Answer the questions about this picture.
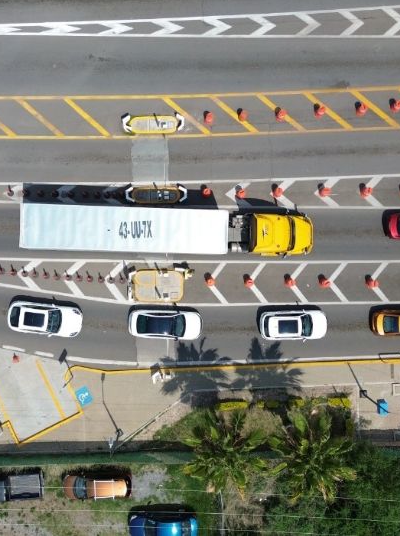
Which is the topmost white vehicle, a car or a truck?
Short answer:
truck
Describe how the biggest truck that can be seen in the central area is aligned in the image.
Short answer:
from left to right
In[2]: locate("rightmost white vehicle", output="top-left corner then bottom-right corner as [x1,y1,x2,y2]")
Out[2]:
[258,308,325,345]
